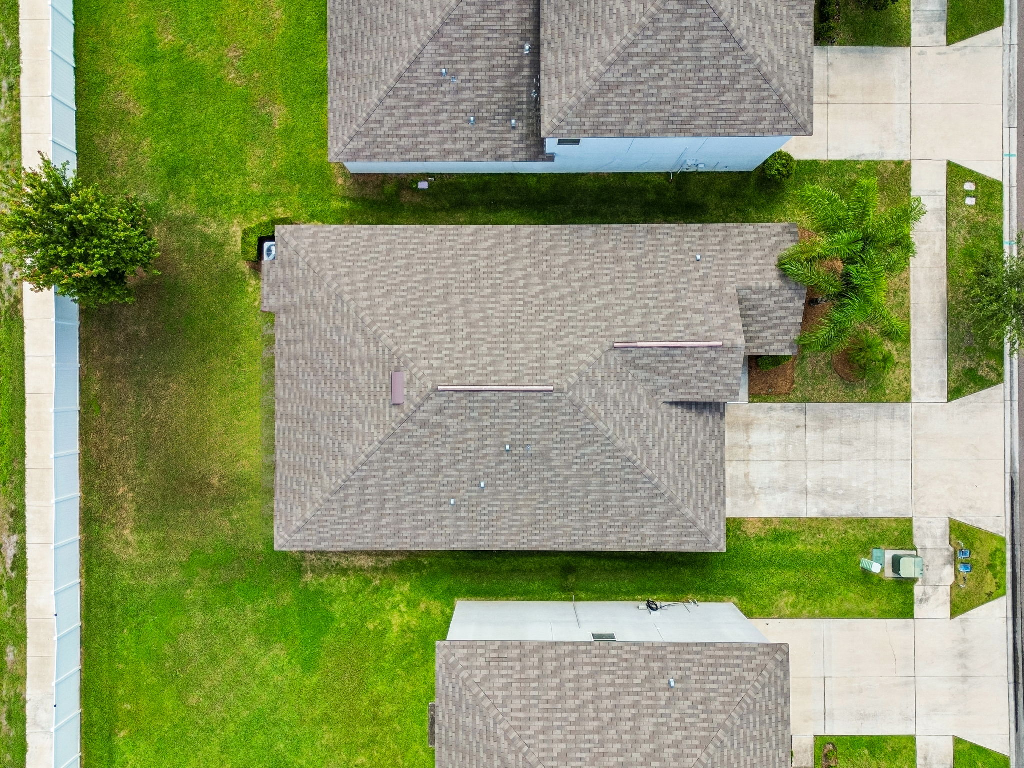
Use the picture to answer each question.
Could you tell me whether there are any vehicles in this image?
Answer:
No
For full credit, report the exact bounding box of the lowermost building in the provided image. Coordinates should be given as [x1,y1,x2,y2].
[435,594,791,768]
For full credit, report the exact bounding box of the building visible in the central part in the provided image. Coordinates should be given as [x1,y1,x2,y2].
[261,224,808,552]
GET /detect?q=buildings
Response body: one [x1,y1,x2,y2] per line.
[435,594,791,768]
[328,0,821,185]
[261,224,808,552]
